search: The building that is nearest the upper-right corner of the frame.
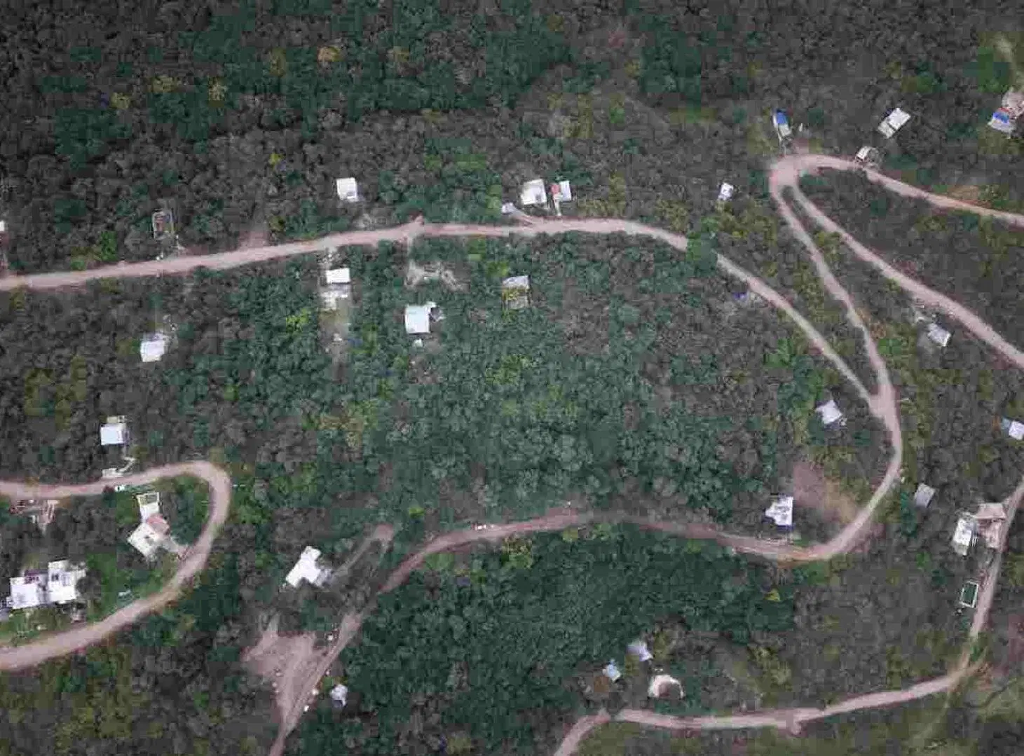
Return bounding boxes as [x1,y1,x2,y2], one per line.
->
[985,89,1024,135]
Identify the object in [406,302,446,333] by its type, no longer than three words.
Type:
house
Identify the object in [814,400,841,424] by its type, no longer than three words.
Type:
house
